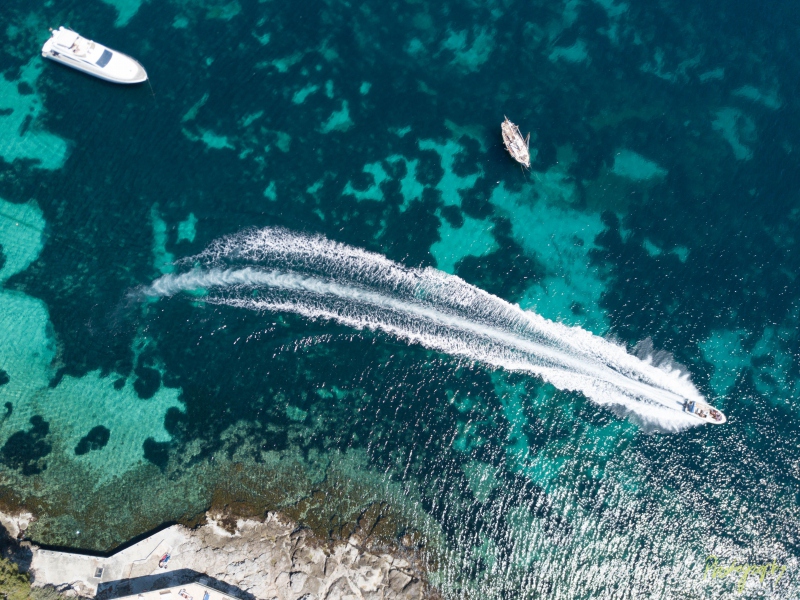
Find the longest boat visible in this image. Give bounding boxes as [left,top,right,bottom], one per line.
[34,20,161,117]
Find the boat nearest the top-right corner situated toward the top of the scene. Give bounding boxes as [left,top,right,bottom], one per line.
[499,113,544,193]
